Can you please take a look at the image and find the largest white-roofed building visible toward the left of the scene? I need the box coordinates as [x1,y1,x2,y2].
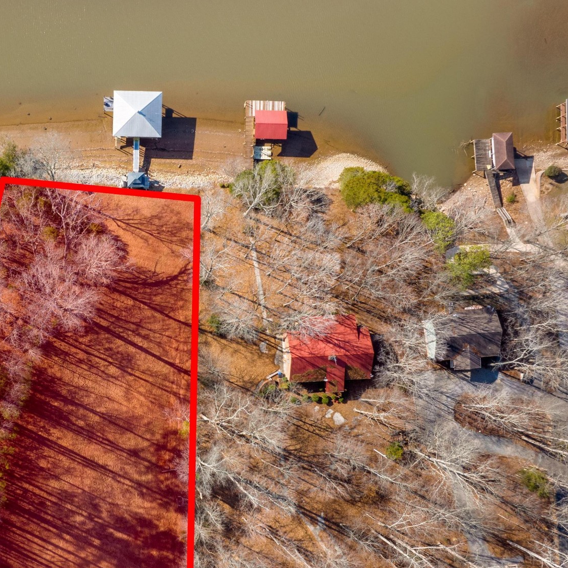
[103,91,163,141]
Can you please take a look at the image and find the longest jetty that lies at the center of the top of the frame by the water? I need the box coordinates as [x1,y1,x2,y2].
[243,100,286,169]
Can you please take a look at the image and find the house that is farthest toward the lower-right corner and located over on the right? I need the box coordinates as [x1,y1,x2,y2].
[428,303,503,370]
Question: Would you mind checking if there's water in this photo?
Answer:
Yes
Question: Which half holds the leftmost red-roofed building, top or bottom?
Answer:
top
